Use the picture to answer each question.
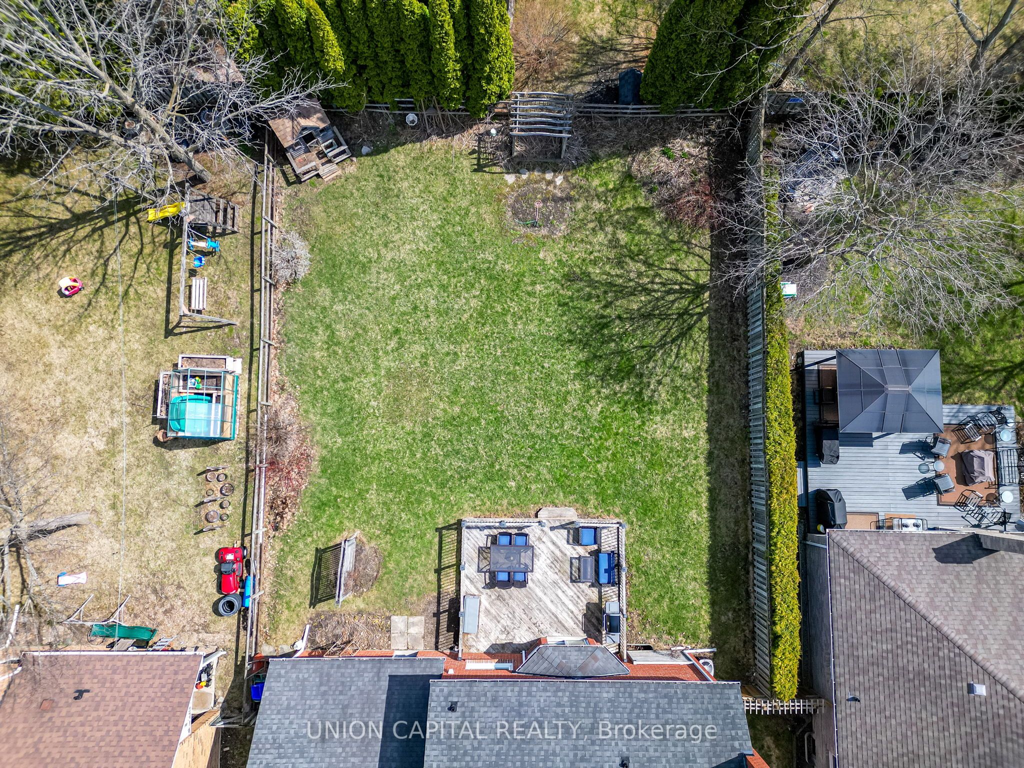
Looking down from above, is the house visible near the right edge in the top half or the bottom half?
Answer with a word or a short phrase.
bottom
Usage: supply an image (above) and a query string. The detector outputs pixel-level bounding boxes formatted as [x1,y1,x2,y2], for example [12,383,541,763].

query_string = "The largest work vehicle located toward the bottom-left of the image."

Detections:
[214,545,250,598]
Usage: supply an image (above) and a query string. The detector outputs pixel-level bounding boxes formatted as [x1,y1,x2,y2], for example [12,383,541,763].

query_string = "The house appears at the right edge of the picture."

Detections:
[796,527,1024,768]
